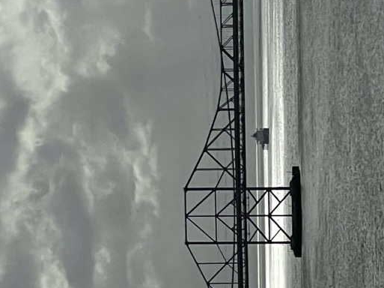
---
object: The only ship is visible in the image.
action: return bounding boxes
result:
[251,130,269,148]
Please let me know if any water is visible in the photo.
Yes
